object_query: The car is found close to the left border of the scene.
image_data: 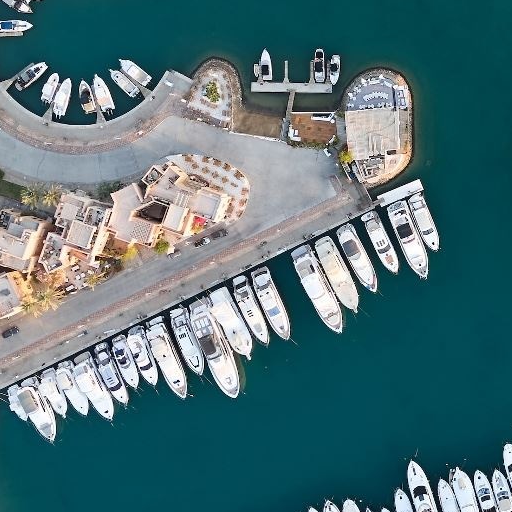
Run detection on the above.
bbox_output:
[1,325,20,339]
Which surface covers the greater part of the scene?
water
